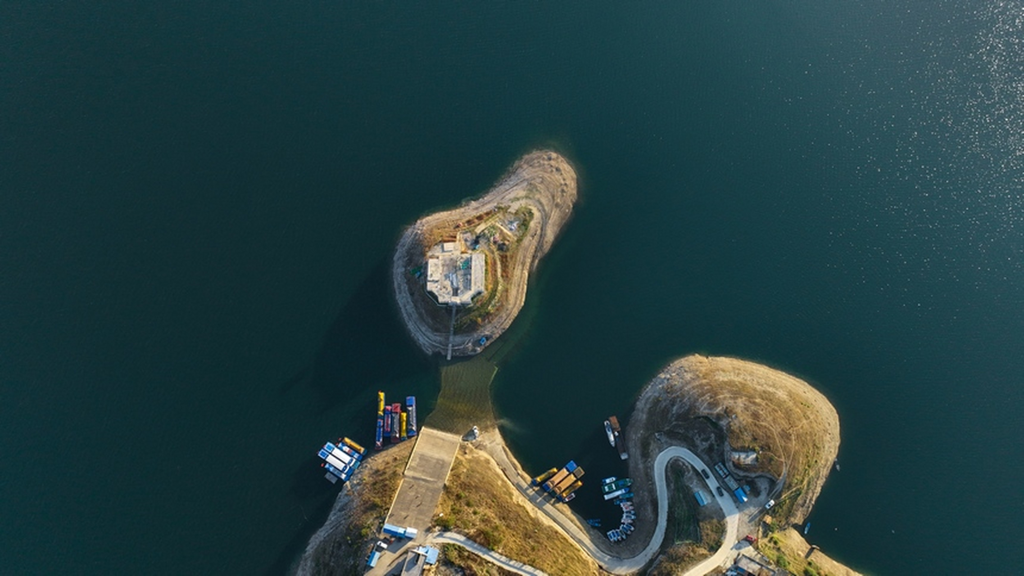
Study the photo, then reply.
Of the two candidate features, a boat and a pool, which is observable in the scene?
boat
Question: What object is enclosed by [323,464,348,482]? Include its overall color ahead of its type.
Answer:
blue boat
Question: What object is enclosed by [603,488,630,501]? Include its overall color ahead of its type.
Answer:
blue boat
